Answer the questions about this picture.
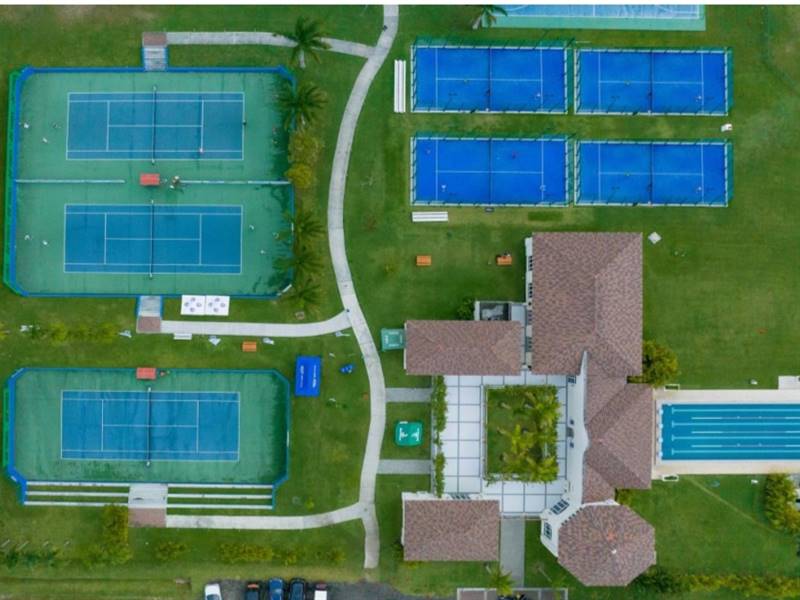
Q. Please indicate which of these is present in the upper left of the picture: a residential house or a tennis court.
tennis court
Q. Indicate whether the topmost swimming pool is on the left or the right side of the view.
right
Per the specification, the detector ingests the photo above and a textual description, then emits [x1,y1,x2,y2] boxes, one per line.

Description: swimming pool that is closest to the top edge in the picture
[652,388,800,475]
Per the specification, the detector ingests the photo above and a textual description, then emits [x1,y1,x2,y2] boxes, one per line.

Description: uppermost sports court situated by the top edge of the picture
[483,0,705,29]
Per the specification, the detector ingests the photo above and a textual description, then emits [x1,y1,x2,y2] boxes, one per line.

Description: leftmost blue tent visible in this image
[295,355,321,396]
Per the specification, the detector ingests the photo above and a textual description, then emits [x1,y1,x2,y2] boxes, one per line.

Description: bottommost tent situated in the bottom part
[394,420,422,446]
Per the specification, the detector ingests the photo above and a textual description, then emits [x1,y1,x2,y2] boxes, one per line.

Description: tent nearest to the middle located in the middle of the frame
[380,329,405,350]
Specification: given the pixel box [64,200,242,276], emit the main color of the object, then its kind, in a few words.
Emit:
blue tennis court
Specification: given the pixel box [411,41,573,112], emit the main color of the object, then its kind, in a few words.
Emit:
blue sports court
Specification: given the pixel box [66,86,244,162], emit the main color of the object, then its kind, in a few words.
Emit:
blue tennis court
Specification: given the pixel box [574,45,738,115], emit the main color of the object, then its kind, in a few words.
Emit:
blue sports court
